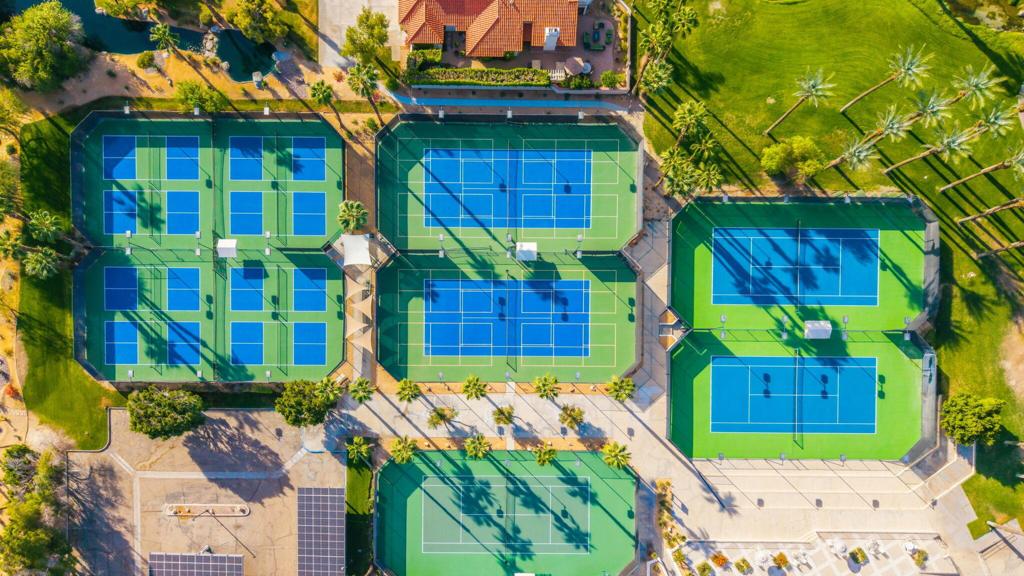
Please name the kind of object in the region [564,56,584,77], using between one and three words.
umbrella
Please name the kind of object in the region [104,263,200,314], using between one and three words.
sports court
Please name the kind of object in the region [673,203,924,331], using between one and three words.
tennis court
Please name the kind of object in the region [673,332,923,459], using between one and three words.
tennis court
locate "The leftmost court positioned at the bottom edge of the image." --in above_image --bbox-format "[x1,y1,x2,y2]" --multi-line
[377,449,636,576]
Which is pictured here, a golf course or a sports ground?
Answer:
sports ground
